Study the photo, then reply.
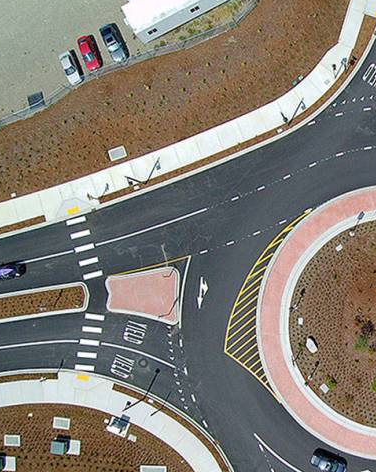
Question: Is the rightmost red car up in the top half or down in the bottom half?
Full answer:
The top half of the photo is where the rightmost red car is.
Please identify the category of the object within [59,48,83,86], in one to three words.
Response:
car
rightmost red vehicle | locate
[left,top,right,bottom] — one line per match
[76,34,102,72]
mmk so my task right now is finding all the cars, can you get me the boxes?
[76,34,102,72]
[59,48,83,86]
[310,452,347,472]
[0,262,23,280]
[100,23,128,63]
